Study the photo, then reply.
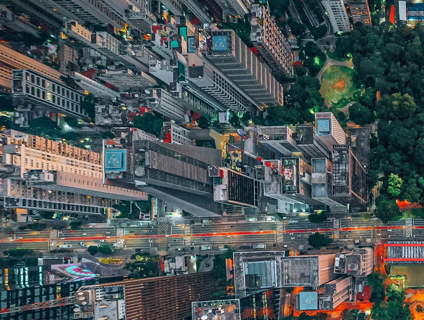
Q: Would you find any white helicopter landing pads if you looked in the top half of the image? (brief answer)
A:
No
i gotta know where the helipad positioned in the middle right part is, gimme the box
[317,119,331,133]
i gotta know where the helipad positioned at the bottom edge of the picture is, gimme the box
[300,292,317,311]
